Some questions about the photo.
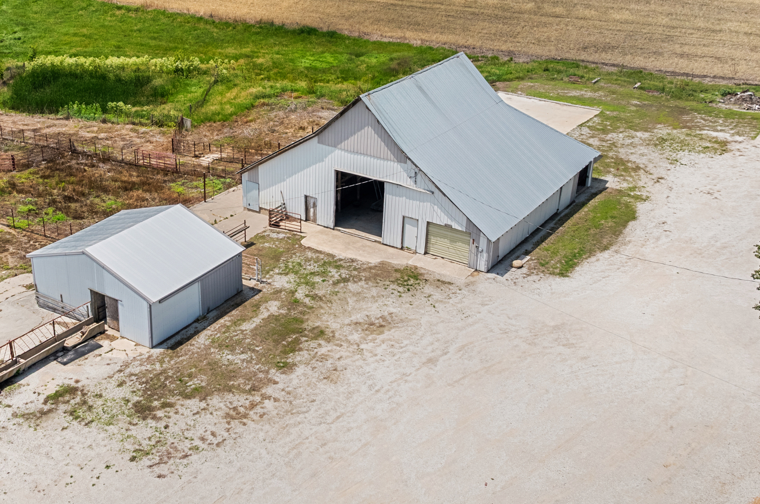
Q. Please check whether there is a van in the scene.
No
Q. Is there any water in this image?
No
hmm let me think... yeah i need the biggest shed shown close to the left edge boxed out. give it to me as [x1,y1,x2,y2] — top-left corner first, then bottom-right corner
[25,202,247,349]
